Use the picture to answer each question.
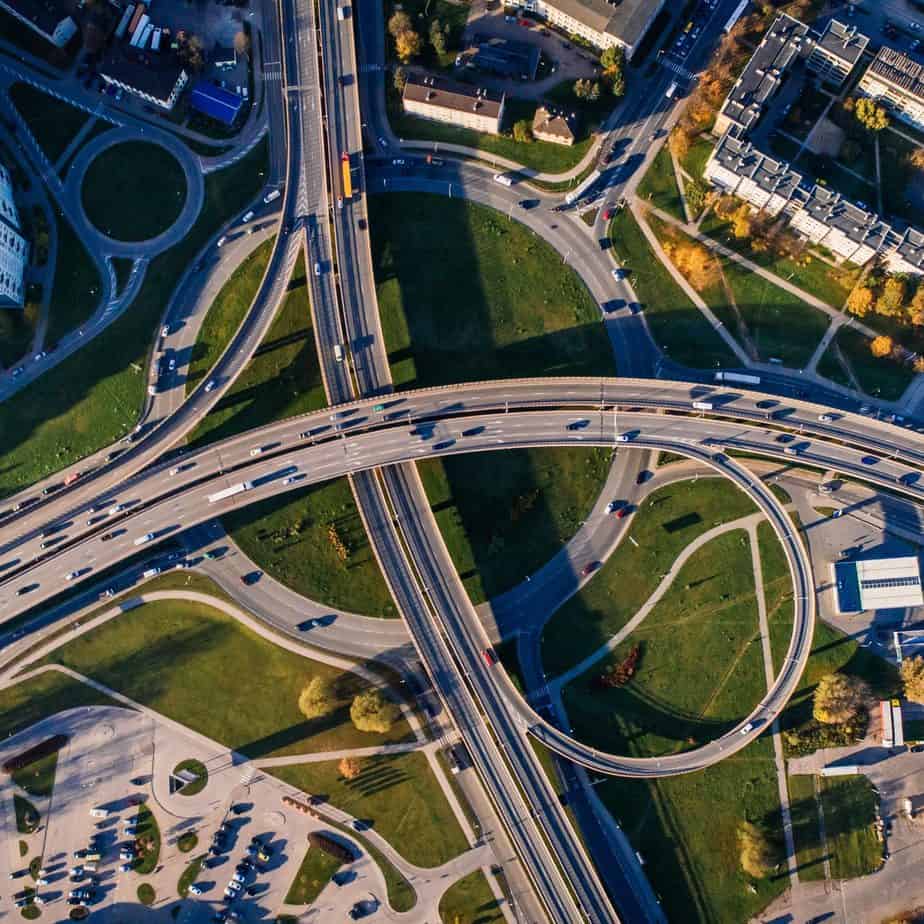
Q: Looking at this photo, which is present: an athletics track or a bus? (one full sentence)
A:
The one in the frame is a bus.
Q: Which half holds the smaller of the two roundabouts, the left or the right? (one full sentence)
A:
The smaller of the two roundabouts sits on the left side.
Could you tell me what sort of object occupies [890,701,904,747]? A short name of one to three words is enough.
vehicle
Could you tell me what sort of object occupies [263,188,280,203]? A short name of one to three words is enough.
vehicle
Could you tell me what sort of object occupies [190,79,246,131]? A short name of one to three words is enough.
shed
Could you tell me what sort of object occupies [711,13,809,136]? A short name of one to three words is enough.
building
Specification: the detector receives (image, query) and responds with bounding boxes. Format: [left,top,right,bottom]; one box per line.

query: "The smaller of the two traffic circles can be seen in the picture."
[64,122,204,260]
